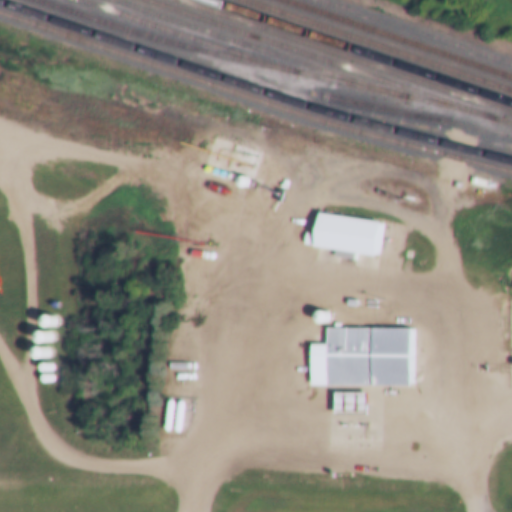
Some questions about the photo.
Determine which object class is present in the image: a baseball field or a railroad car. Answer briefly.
railroad car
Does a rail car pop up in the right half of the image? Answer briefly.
Yes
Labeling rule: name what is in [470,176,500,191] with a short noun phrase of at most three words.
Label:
vehicle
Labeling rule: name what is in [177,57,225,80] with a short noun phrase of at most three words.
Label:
rail car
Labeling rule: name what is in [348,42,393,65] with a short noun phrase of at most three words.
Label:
rail car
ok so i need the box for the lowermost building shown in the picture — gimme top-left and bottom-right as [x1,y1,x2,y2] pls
[310,327,415,386]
